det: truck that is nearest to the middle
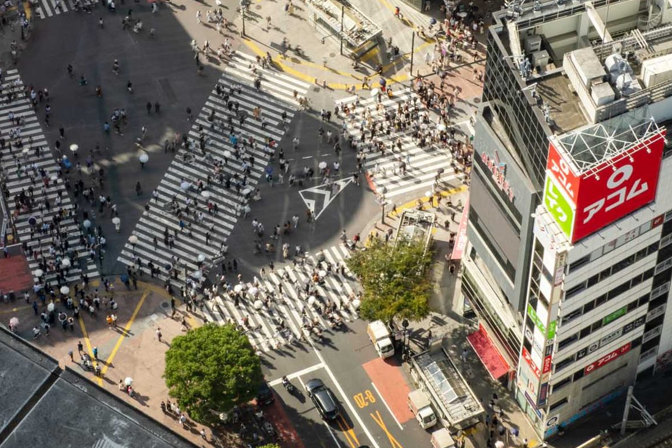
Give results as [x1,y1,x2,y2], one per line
[370,315,397,353]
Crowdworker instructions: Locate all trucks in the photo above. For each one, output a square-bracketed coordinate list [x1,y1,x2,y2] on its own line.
[409,384,441,423]
[370,315,397,353]
[434,423,458,448]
